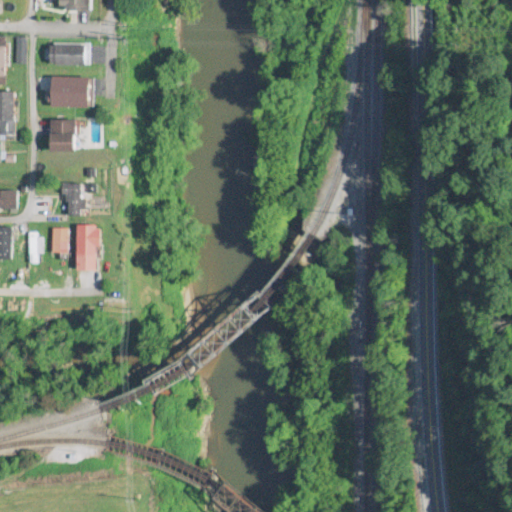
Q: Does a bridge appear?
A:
Yes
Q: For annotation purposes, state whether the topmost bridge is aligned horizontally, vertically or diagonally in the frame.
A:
diagonally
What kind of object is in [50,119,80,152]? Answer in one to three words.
house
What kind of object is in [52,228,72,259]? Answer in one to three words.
building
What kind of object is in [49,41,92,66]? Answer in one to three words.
house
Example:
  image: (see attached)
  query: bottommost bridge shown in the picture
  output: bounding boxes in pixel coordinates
[102,434,268,512]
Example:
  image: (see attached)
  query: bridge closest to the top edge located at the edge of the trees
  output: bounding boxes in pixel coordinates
[94,230,321,420]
